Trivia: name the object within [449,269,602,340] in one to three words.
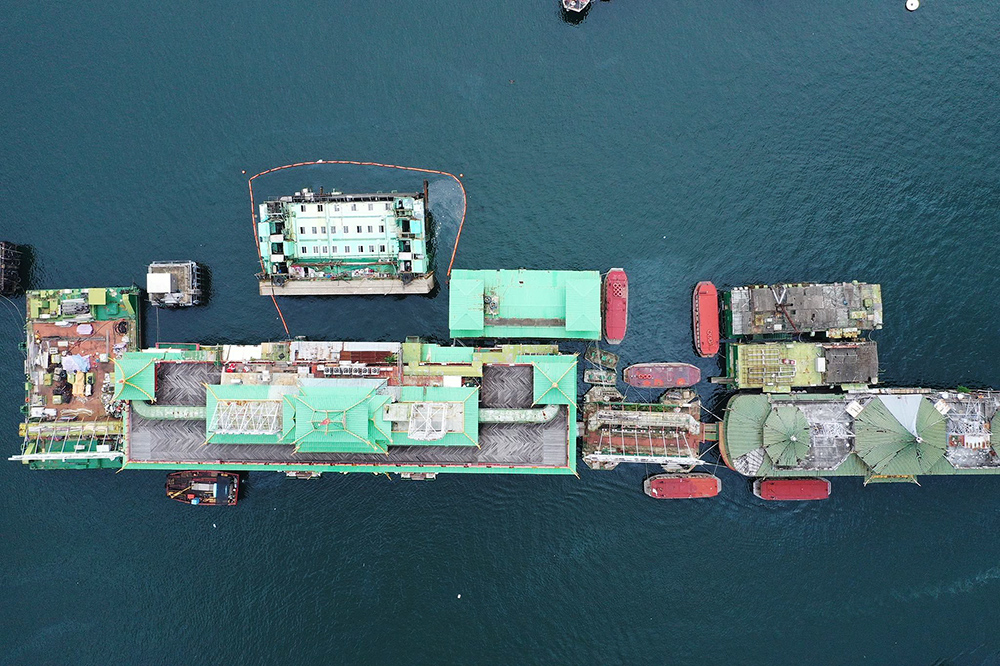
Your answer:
ship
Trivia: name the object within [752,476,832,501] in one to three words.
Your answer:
boat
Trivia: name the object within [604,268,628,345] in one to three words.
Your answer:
boat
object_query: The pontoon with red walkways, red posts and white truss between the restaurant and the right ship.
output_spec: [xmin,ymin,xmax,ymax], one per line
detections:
[582,386,705,472]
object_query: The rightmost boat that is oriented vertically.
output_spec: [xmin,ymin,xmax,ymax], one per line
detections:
[692,280,720,358]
